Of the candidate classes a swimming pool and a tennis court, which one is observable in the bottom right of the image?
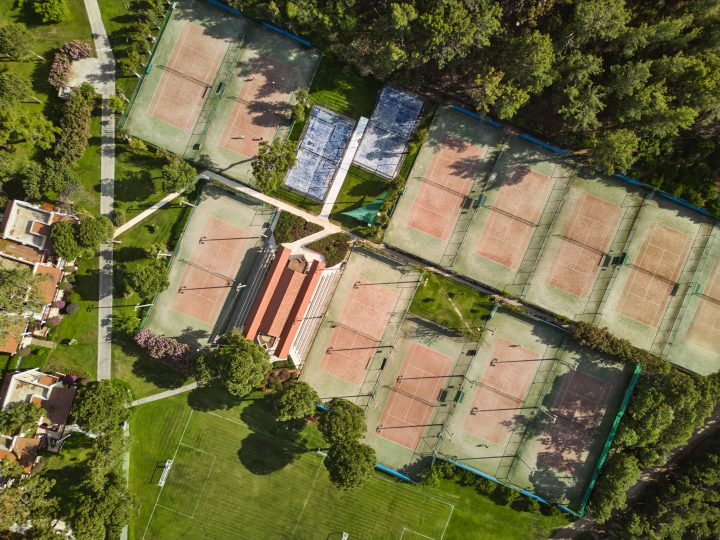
tennis court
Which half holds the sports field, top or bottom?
bottom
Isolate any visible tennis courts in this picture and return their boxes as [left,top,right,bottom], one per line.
[506,333,632,508]
[353,314,480,486]
[146,186,273,354]
[590,188,717,356]
[380,101,508,270]
[520,159,647,327]
[194,24,323,191]
[438,304,566,479]
[660,217,720,377]
[450,129,577,298]
[120,0,253,161]
[297,246,423,416]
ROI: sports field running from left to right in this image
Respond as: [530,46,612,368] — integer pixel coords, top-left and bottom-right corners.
[140,406,458,540]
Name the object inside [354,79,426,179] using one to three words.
sports court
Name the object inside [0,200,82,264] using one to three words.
house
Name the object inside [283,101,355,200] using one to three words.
sports court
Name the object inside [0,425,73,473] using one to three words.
house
